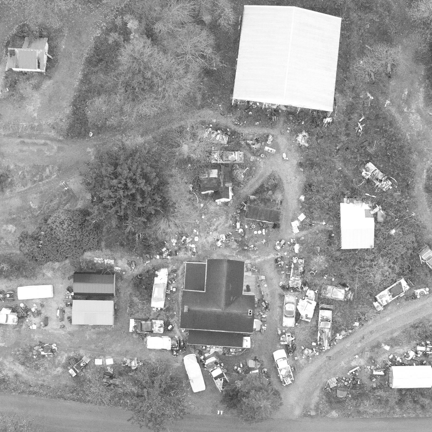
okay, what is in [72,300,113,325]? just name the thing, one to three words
building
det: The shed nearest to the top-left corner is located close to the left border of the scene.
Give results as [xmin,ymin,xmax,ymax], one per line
[6,36,52,74]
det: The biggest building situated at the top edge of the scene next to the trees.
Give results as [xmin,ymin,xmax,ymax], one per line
[232,5,342,117]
